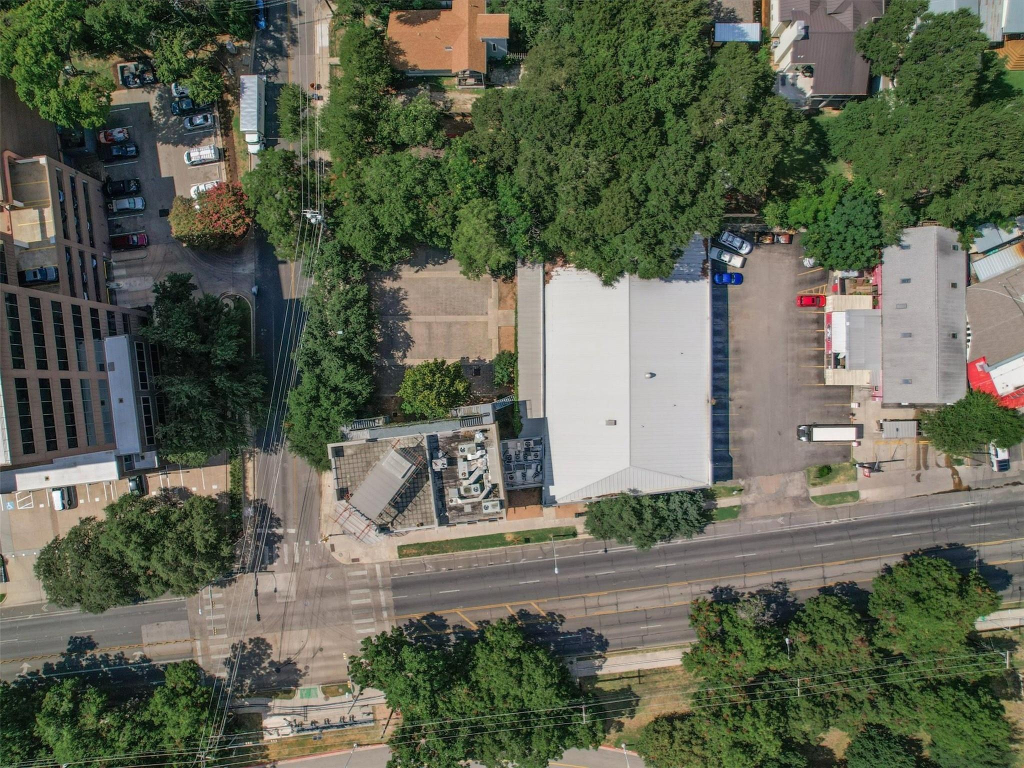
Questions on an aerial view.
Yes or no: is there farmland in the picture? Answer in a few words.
No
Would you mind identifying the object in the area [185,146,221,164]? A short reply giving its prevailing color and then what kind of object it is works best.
white vehicle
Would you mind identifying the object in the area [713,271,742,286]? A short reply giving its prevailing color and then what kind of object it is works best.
blue car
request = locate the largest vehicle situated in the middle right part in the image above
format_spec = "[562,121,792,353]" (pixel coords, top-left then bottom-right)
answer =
[788,423,856,441]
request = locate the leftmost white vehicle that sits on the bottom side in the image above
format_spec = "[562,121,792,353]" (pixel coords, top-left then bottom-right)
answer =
[49,486,69,514]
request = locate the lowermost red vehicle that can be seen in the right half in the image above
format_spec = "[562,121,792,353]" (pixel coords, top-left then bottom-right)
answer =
[795,294,825,308]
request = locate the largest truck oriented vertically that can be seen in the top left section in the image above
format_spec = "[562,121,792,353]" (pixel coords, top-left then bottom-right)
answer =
[240,75,265,157]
